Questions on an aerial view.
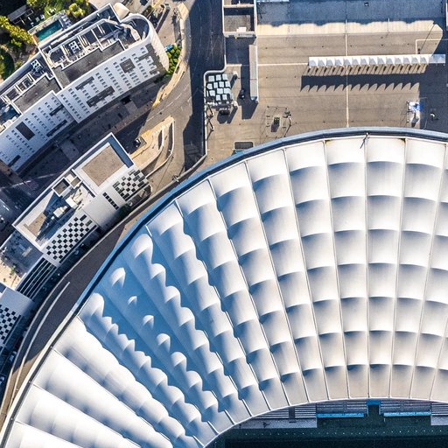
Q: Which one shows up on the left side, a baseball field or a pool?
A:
pool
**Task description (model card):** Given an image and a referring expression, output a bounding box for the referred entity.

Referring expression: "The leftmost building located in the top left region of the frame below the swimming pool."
[0,49,76,170]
